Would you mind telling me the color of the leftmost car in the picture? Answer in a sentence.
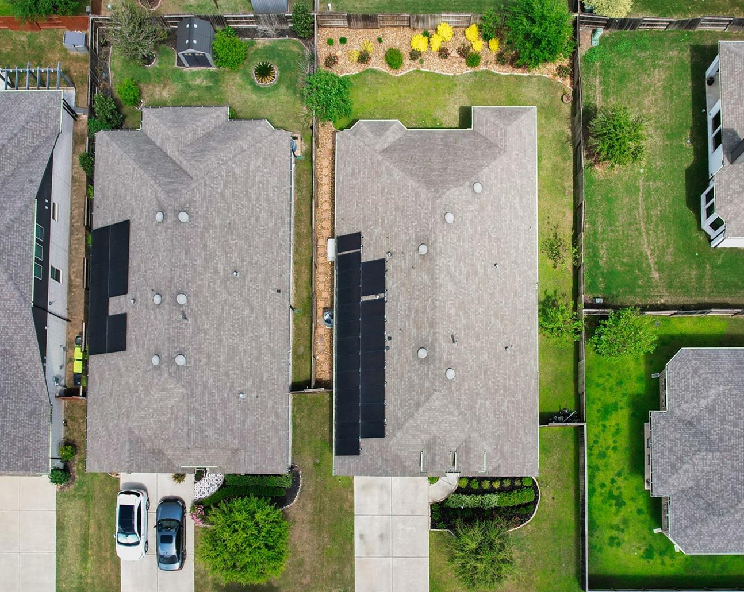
The leftmost car is white.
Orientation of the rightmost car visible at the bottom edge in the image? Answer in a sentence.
The rightmost car visible at the bottom edge is laid out from top to bottom.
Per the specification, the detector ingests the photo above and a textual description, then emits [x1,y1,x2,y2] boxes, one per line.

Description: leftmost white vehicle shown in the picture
[113,490,149,561]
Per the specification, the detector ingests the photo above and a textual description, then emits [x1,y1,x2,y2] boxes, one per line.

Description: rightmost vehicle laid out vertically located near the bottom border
[152,500,186,571]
